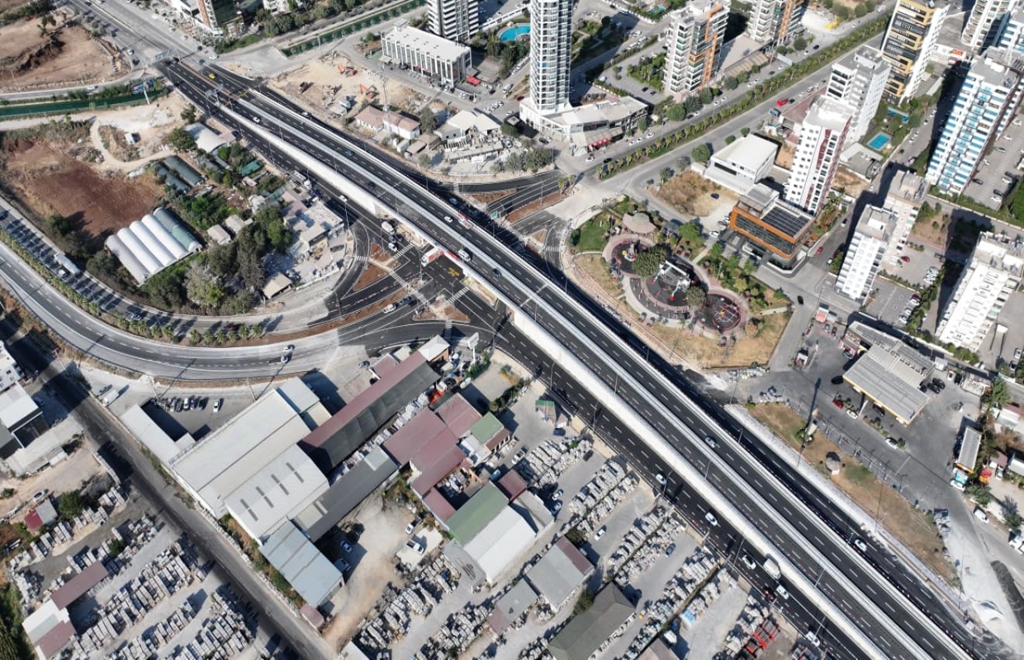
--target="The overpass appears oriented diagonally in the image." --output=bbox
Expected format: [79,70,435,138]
[219,89,974,660]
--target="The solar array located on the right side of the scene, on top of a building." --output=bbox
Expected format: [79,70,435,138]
[758,202,810,238]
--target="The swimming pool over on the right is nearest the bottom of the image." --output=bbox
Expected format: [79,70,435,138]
[864,129,894,151]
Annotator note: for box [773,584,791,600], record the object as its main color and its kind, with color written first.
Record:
white car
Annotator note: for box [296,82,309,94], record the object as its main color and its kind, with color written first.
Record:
gray vehicle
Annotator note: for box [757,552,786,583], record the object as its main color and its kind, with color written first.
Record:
white truck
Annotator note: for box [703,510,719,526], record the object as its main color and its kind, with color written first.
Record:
white car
